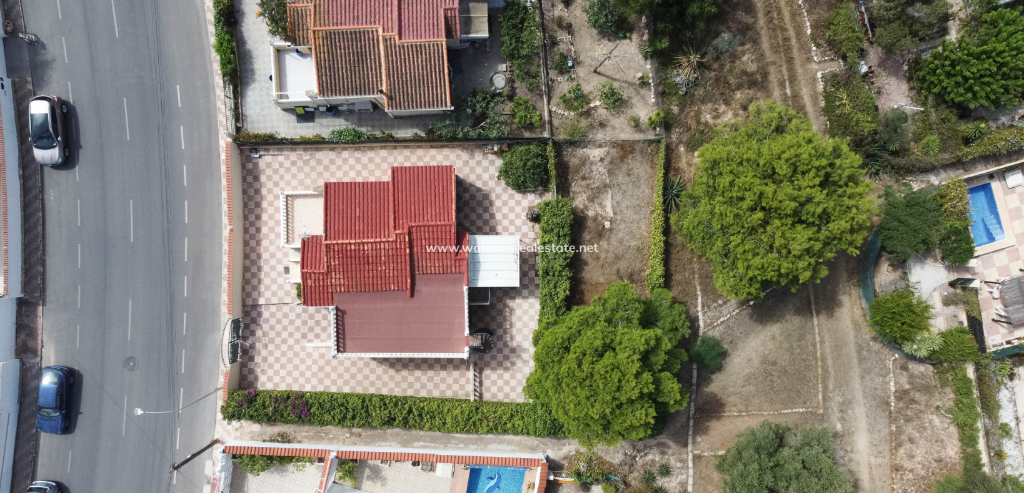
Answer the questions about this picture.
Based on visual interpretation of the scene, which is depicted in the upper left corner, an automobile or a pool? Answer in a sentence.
There is an automobile in the upper left corner.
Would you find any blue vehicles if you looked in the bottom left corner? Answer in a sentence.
Yes, a blue vehicle shows up in the bottom left corner.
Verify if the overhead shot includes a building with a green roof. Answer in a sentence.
No, the picture doesn't show any building with a green roof.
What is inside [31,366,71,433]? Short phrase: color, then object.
blue car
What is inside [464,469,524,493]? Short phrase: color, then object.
blue swimming pool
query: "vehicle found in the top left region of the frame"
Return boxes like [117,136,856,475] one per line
[28,95,69,168]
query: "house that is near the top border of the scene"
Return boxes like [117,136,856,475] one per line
[270,0,462,112]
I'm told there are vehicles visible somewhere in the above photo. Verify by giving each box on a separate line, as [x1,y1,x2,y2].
[31,366,71,433]
[28,95,69,168]
[26,477,62,493]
